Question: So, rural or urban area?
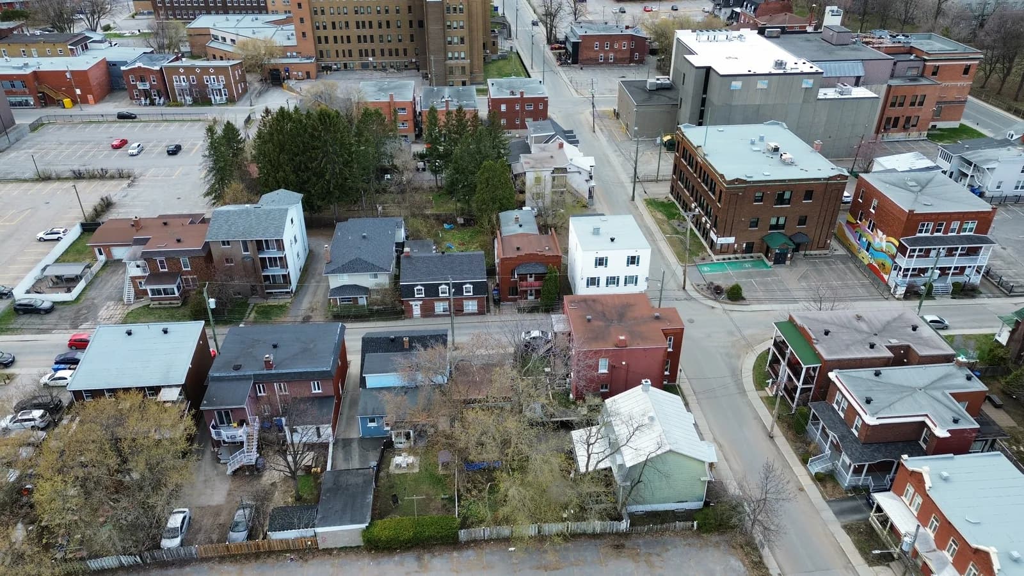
urban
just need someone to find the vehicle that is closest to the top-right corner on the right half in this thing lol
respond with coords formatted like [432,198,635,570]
[843,190,855,202]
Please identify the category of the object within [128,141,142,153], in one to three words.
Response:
vehicle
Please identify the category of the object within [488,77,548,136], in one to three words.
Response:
house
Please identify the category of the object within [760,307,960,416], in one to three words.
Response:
house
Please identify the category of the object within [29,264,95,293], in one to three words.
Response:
gazebo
